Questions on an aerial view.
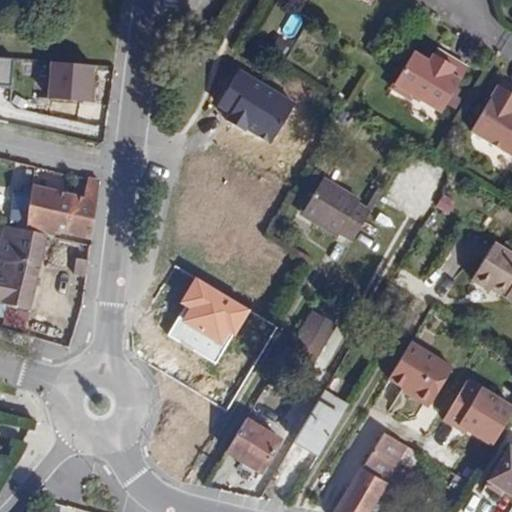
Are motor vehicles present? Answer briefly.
Yes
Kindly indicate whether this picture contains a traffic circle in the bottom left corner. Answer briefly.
Yes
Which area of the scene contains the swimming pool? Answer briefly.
top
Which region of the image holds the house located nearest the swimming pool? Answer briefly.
top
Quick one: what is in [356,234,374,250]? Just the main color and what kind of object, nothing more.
white camper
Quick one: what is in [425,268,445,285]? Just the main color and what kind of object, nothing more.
white car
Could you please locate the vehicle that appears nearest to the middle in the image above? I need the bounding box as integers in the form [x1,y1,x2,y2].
[328,240,344,258]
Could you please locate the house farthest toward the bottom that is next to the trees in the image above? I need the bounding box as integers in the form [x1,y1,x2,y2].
[332,466,386,512]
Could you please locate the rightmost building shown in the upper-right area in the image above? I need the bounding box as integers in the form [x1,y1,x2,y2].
[472,84,512,155]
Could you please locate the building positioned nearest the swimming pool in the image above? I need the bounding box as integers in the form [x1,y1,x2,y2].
[216,70,294,140]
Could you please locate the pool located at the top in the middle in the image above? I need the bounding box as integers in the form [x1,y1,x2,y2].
[280,14,300,38]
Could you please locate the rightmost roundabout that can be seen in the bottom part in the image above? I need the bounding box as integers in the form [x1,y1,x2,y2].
[48,351,152,454]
